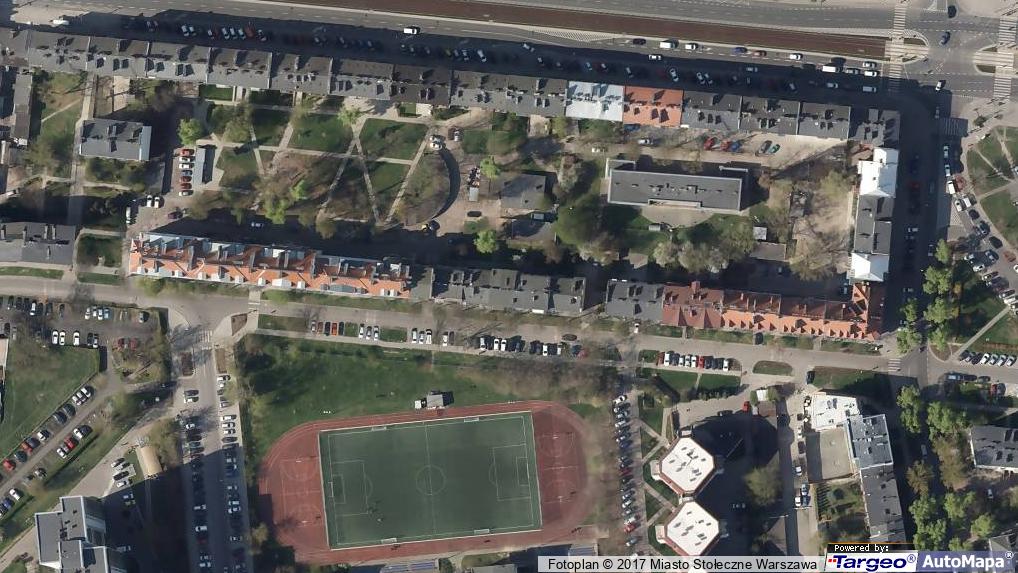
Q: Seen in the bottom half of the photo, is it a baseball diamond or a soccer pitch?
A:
soccer pitch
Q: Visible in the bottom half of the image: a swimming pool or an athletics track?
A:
athletics track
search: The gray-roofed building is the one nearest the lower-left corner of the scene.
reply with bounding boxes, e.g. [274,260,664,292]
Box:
[36,496,126,573]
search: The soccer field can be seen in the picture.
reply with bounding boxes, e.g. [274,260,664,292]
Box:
[317,411,542,550]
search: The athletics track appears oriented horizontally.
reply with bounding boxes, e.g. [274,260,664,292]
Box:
[258,401,592,564]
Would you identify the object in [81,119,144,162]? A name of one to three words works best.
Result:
house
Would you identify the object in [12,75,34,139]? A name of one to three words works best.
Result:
shed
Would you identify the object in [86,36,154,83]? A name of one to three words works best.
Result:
building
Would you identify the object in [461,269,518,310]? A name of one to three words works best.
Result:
building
